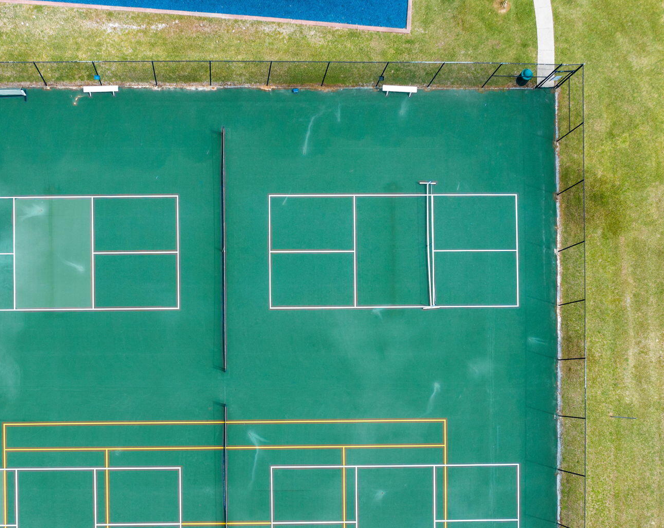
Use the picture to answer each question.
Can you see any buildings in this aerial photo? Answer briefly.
No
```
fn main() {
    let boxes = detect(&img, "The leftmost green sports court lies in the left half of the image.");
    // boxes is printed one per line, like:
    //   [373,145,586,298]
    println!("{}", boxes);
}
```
[0,195,181,312]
